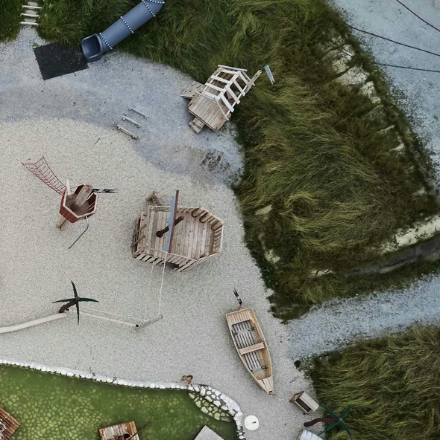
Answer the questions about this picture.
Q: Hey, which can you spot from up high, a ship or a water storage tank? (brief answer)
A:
ship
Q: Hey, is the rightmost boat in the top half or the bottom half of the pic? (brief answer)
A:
bottom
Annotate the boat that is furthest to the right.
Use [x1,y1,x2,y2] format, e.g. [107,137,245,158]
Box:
[221,291,275,395]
